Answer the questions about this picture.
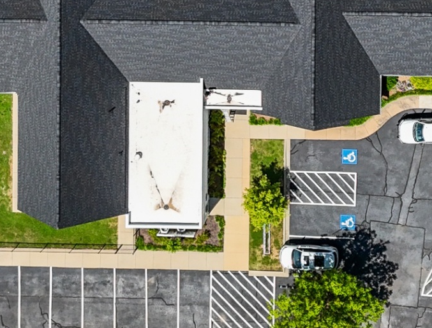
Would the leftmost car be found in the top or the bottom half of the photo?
bottom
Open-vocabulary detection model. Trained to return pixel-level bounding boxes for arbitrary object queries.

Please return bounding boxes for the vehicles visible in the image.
[397,115,432,144]
[281,241,339,272]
